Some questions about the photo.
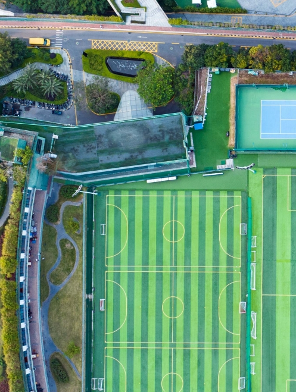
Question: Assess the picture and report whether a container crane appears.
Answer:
No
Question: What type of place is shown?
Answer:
sports ground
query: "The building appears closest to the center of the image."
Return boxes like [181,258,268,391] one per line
[49,112,195,187]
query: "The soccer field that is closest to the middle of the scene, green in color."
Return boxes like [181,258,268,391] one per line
[105,195,241,267]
